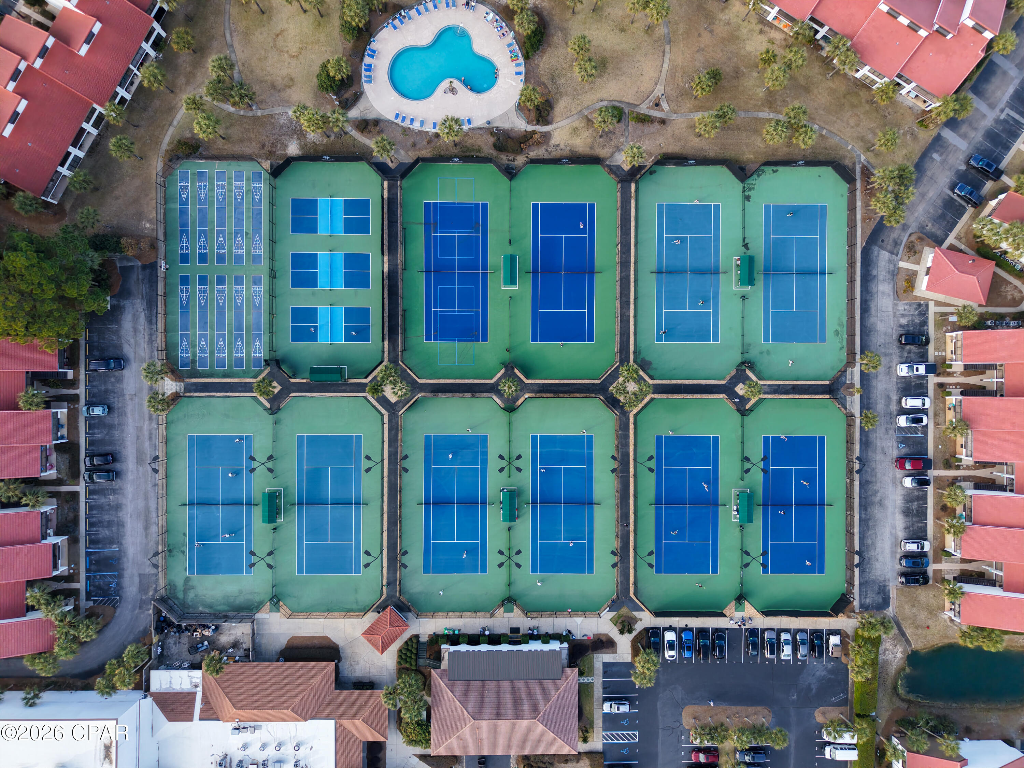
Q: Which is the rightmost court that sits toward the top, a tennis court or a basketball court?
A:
tennis court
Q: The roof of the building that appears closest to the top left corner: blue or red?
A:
red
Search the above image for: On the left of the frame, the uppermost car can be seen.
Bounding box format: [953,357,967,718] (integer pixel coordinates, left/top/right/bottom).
[90,357,126,371]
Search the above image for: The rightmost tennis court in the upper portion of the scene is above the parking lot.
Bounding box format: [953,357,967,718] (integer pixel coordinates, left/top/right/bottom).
[741,166,847,380]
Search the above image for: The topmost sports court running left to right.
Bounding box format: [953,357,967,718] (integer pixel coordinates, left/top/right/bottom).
[290,198,371,235]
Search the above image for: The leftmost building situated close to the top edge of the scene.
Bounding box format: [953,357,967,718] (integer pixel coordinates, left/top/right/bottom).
[0,0,185,204]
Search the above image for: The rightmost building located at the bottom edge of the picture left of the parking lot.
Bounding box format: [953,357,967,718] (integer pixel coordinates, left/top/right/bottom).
[431,627,579,756]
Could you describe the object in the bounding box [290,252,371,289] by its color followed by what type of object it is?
blue sports court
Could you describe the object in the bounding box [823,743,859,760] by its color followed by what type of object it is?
white vehicle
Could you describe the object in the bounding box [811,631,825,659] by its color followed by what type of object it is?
black car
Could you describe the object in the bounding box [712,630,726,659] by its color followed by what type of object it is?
black car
